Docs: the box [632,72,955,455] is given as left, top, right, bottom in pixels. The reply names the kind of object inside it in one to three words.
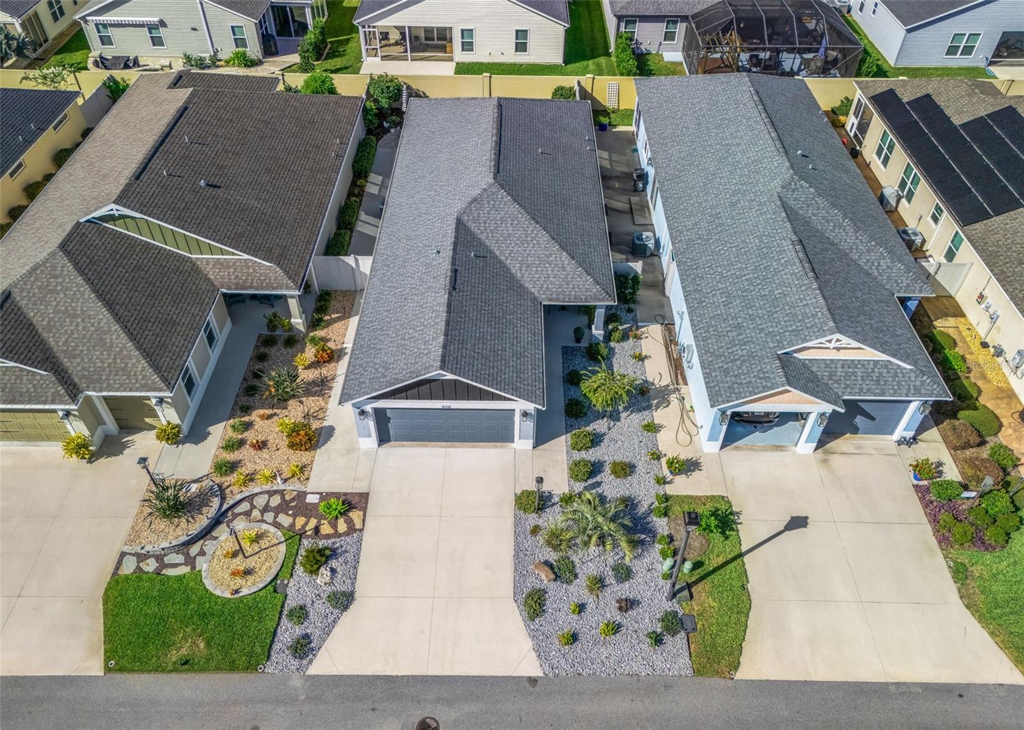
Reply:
house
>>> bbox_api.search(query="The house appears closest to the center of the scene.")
[341,96,619,452]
